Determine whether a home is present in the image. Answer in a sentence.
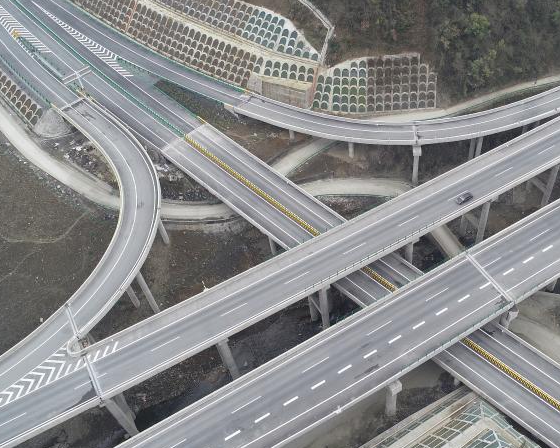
No, no home is visible in the scene.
